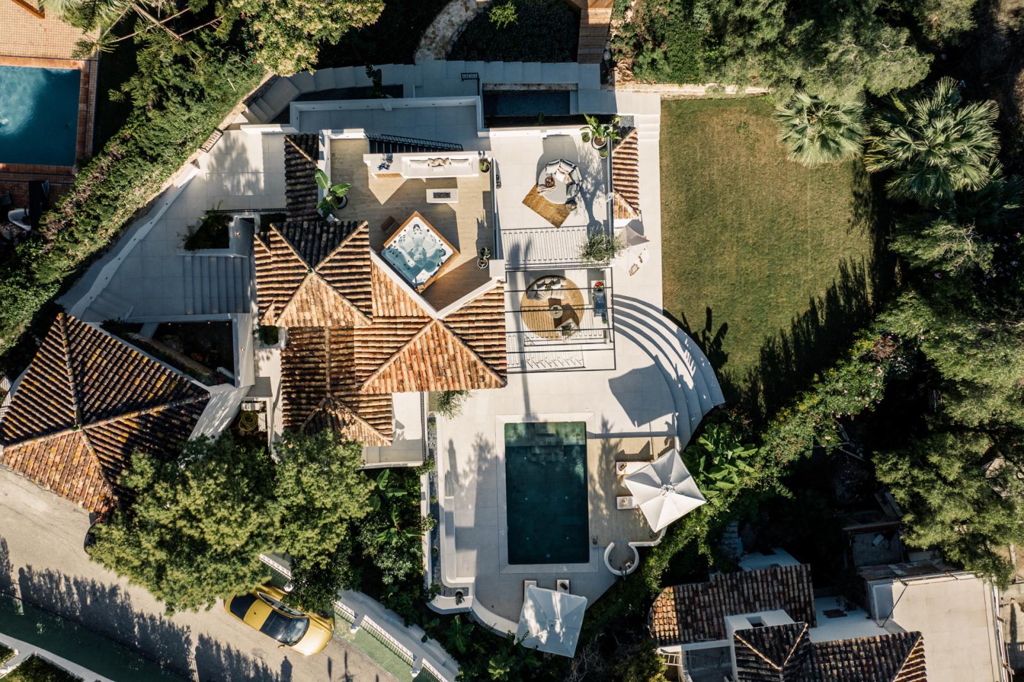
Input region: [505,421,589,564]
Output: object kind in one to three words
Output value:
swimming pool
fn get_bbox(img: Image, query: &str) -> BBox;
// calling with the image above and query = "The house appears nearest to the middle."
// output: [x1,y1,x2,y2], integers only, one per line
[128,94,643,469]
